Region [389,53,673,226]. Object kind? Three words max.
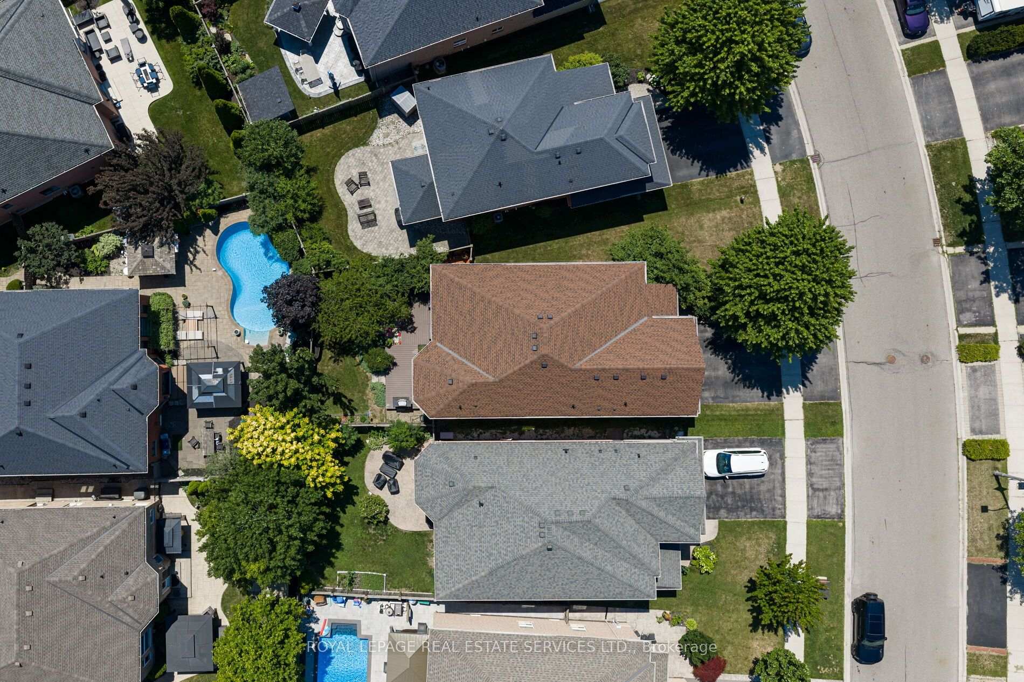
house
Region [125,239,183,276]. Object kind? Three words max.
gazebo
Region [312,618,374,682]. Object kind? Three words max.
swimming pool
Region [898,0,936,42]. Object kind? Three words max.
car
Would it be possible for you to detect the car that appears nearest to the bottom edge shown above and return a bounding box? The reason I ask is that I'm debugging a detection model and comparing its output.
[849,594,887,662]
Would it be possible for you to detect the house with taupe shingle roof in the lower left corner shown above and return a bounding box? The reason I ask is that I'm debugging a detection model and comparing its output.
[0,497,178,682]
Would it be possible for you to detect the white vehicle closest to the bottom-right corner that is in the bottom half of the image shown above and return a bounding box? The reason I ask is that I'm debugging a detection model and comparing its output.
[705,448,767,480]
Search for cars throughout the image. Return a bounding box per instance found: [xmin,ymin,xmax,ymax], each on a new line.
[705,448,767,480]
[781,0,819,62]
[849,594,887,662]
[898,0,936,42]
